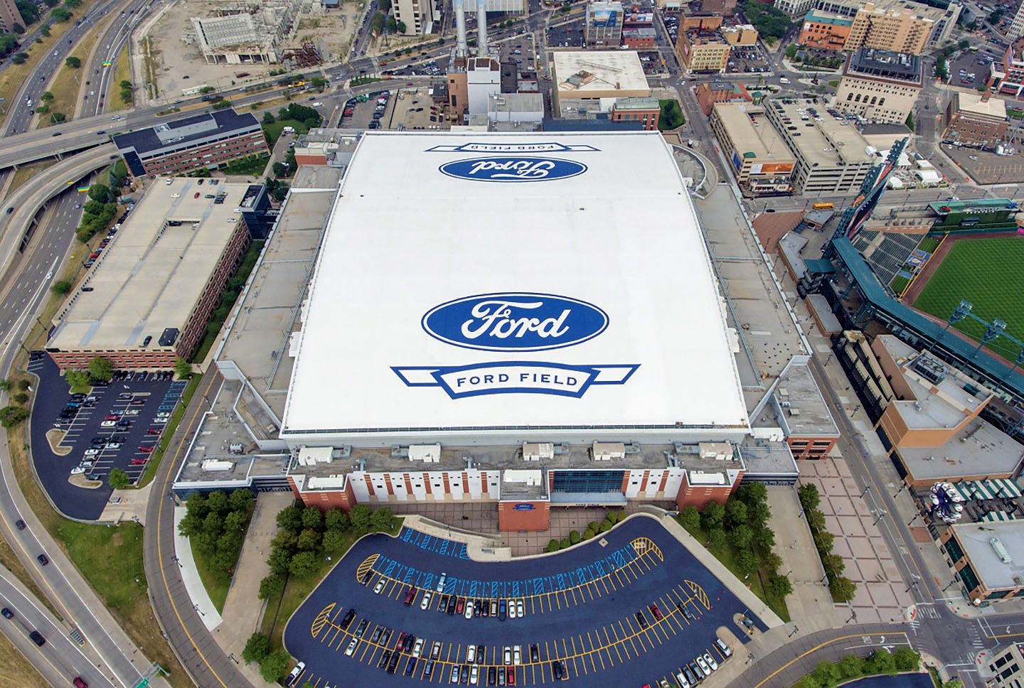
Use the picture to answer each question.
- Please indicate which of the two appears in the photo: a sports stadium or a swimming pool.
sports stadium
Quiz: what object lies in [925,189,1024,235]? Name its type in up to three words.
building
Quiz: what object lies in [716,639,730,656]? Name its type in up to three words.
car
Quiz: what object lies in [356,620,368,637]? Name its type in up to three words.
vehicle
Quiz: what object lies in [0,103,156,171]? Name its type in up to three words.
overpass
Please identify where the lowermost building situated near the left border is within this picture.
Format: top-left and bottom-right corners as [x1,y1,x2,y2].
[43,176,254,373]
